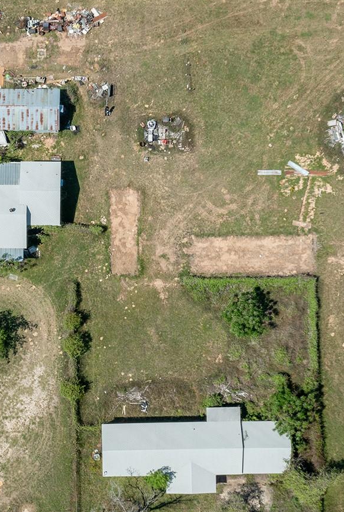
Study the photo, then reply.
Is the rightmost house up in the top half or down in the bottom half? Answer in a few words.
bottom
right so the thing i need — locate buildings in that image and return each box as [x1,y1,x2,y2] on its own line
[0,88,65,134]
[0,160,65,267]
[101,406,292,494]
